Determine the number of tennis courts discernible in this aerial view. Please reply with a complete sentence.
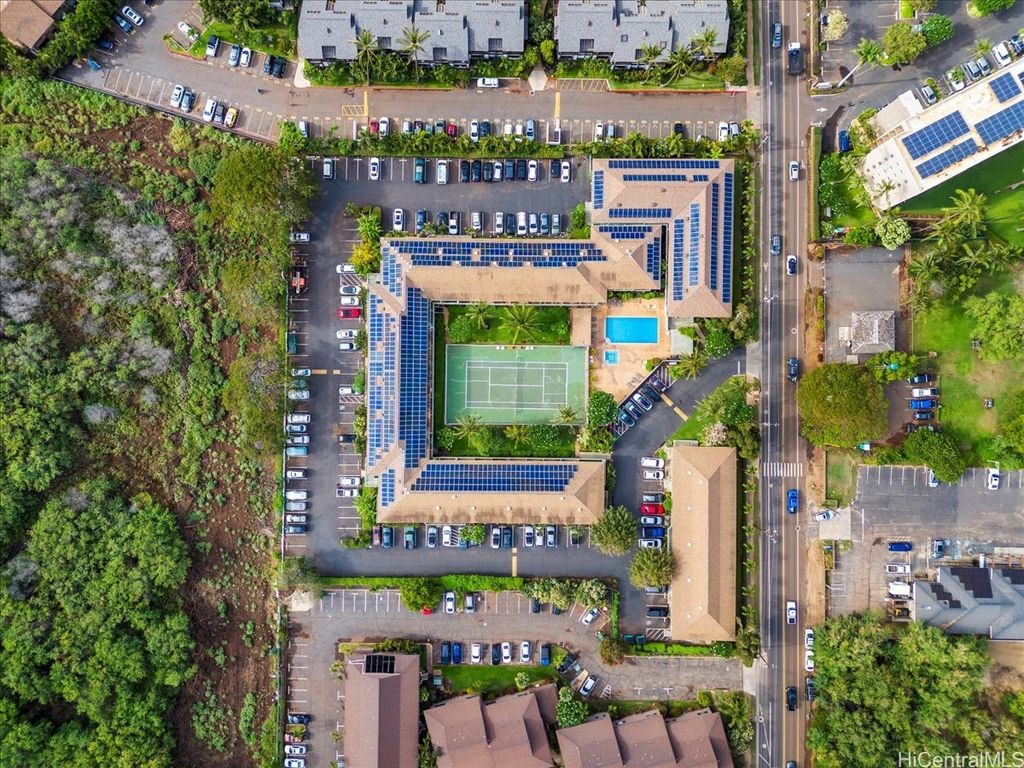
There is 1 tennis court in the image.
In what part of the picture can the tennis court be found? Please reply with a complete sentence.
You can find the tennis court in the center area of the picture.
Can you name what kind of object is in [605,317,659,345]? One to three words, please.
swimming pool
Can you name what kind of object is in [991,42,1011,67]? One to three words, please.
vehicle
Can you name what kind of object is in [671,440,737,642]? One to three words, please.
building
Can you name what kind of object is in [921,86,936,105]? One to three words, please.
car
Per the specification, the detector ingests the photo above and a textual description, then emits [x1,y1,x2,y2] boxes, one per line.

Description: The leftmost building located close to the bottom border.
[344,649,421,768]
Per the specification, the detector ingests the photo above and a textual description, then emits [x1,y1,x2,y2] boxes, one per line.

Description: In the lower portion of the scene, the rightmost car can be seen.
[987,469,999,489]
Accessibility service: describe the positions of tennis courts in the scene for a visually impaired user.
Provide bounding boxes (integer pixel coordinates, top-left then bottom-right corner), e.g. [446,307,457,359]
[443,344,589,426]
